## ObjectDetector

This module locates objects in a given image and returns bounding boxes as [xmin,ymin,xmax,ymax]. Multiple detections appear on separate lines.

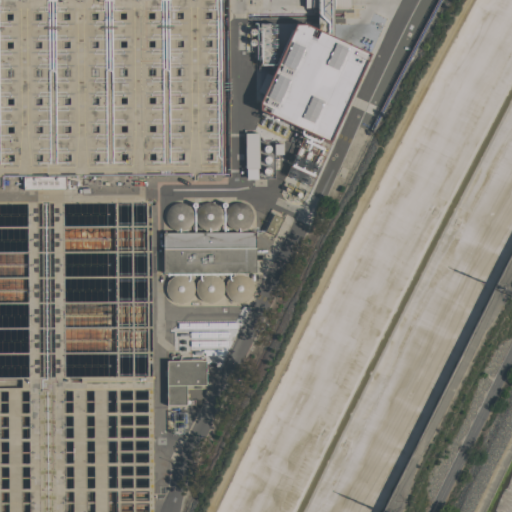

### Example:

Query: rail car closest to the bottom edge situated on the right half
[372,113,385,132]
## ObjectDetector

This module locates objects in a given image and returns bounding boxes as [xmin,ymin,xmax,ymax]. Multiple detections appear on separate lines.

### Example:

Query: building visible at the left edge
[24,176,66,190]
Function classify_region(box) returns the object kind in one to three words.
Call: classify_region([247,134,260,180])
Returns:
building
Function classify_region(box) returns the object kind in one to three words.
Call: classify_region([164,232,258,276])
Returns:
building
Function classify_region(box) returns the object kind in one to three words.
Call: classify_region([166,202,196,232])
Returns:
storage tank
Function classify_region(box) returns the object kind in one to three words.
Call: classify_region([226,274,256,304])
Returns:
storage tank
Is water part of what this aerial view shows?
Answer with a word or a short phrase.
Yes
